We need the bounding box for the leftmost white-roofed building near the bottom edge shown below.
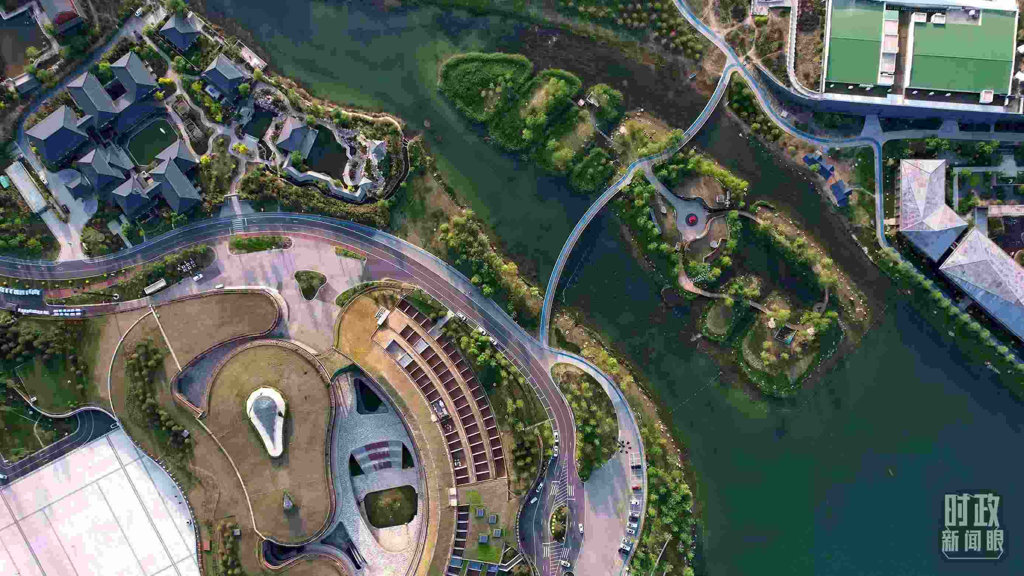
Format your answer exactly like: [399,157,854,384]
[0,423,201,576]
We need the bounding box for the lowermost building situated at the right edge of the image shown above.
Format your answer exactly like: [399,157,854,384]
[936,227,1024,340]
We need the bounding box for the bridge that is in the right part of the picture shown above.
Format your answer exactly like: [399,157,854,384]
[539,61,742,348]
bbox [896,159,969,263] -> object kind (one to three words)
building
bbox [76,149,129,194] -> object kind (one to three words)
house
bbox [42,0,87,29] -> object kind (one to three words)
house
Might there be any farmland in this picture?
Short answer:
No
